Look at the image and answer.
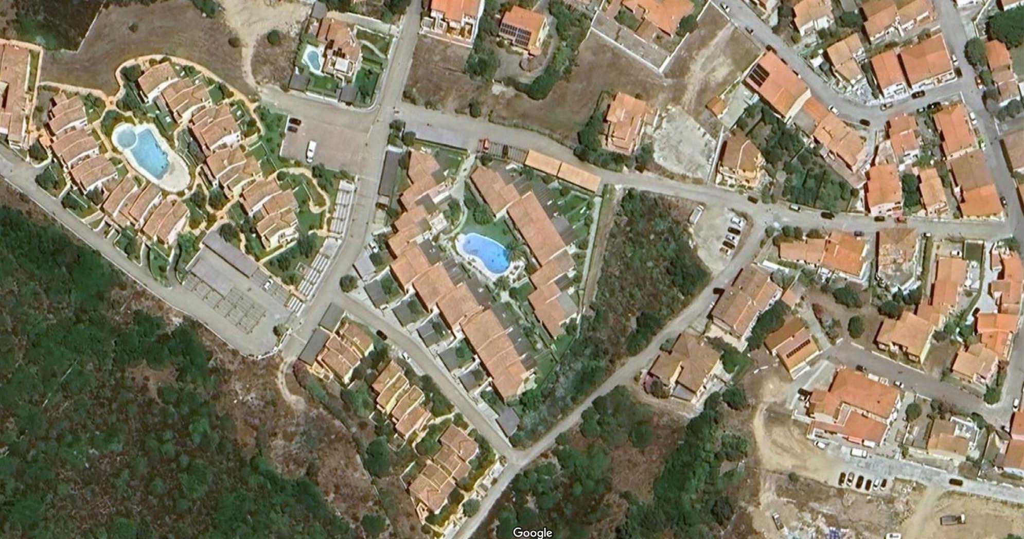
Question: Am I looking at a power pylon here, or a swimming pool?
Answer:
swimming pool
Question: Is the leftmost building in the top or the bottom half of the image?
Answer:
top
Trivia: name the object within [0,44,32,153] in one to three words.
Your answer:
building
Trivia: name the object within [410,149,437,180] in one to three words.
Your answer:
house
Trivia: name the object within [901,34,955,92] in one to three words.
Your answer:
house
